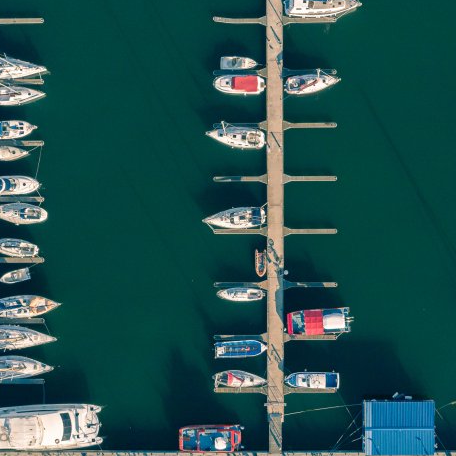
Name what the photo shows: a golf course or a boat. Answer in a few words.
boat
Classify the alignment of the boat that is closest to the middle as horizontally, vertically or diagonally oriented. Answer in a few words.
horizontally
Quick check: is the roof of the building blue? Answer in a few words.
Yes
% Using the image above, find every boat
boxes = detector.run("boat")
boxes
[0,52,48,81]
[0,79,48,108]
[282,69,343,97]
[216,371,269,391]
[212,74,269,96]
[283,0,362,20]
[201,207,268,229]
[0,324,58,353]
[0,236,41,258]
[0,119,37,140]
[206,122,269,151]
[282,369,339,390]
[0,403,104,449]
[0,175,41,196]
[0,354,55,381]
[0,144,30,163]
[213,338,269,357]
[0,293,60,321]
[215,285,269,302]
[0,269,34,283]
[282,307,353,336]
[0,201,50,224]
[221,55,269,71]
[255,250,267,277]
